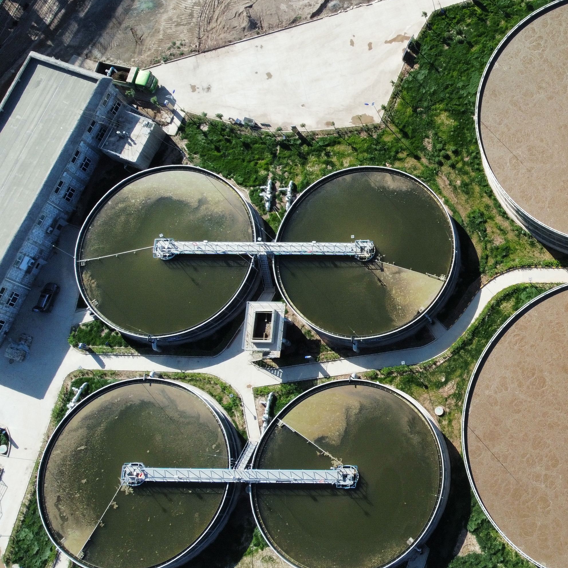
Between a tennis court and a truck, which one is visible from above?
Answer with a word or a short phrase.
truck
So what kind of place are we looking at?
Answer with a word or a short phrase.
industrial area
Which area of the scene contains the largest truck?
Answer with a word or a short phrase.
top left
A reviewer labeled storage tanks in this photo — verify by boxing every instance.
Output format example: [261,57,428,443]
[37,377,245,568]
[249,378,451,568]
[476,0,568,255]
[75,165,267,347]
[274,165,462,347]
[462,283,568,568]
